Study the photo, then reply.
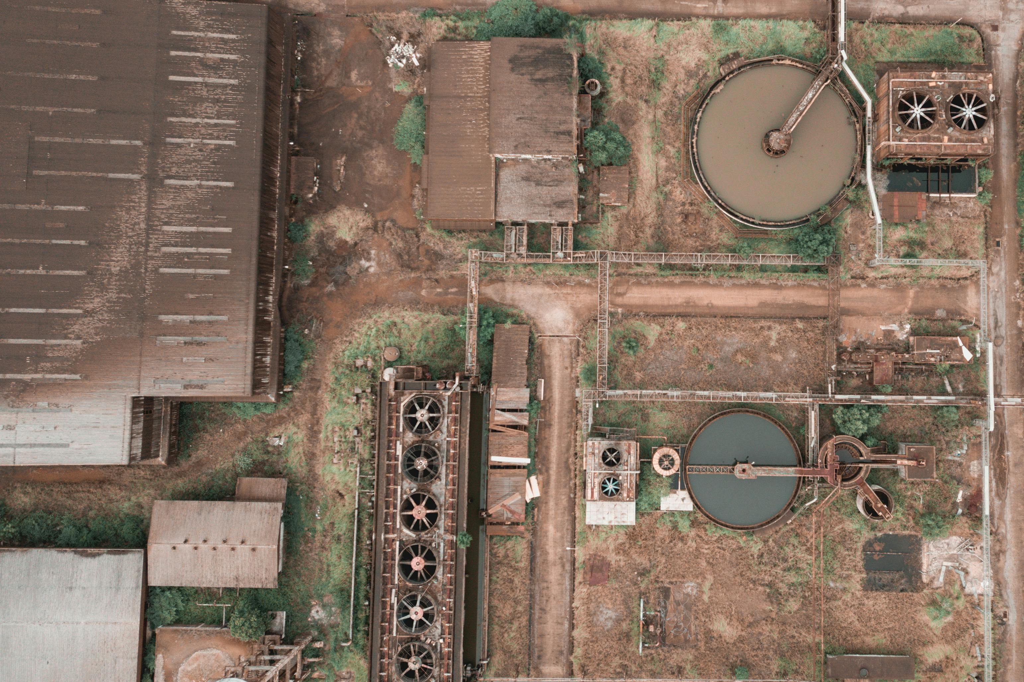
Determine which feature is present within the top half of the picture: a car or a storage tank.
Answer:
storage tank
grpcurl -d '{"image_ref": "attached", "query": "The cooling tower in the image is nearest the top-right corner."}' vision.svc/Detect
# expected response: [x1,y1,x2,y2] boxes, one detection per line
[873,62,999,164]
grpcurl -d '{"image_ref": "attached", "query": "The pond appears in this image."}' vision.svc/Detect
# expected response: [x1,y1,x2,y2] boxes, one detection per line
[863,534,922,592]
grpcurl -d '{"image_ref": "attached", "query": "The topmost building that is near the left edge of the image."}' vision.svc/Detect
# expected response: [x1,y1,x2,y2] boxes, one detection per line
[0,0,296,466]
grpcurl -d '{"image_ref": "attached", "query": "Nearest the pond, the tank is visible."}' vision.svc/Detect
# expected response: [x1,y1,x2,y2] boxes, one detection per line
[849,477,894,521]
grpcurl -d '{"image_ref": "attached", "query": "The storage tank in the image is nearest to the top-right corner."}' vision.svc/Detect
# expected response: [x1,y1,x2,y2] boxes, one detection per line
[683,49,863,240]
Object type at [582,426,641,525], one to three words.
cooling tower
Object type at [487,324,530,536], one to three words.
shed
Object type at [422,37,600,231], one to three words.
building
